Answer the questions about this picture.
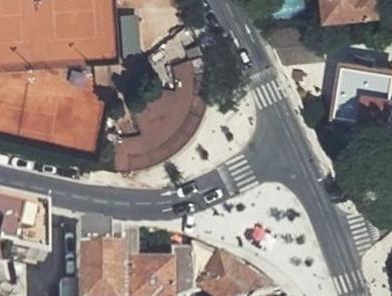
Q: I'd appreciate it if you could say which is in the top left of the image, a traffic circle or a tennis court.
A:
tennis court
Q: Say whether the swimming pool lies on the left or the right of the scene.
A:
right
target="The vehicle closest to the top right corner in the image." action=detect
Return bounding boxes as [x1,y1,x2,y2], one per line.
[239,49,252,66]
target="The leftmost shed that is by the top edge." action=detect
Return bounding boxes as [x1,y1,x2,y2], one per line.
[120,14,141,63]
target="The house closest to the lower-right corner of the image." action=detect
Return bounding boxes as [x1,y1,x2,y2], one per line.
[196,248,274,296]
